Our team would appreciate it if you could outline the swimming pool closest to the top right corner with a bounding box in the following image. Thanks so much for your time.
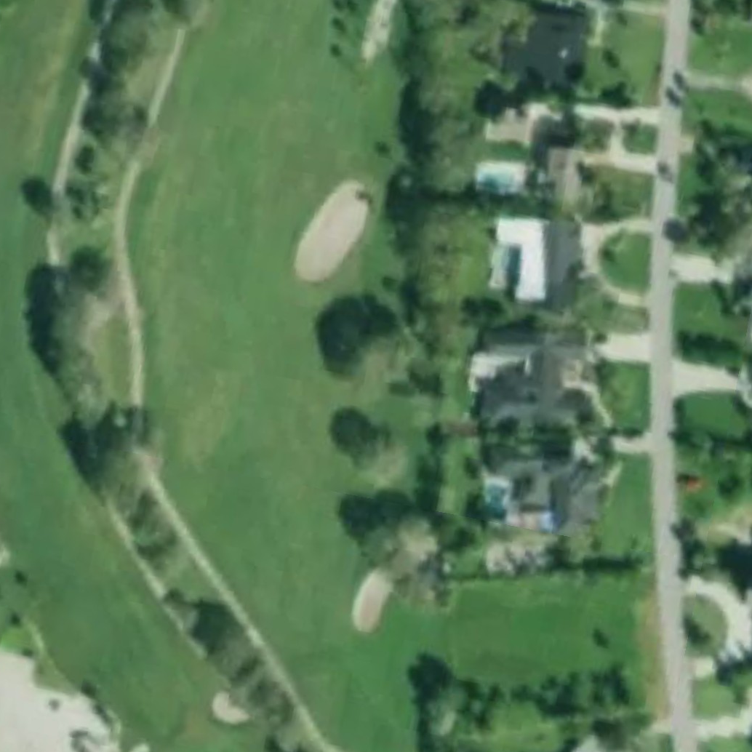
[476,164,527,195]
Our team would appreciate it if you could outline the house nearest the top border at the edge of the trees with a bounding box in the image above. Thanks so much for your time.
[502,8,588,84]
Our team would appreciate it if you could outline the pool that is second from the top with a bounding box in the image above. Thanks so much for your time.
[491,245,521,290]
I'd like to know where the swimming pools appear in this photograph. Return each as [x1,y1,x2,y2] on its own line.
[476,164,527,195]
[485,478,510,523]
[491,245,521,290]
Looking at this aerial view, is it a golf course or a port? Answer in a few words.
golf course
